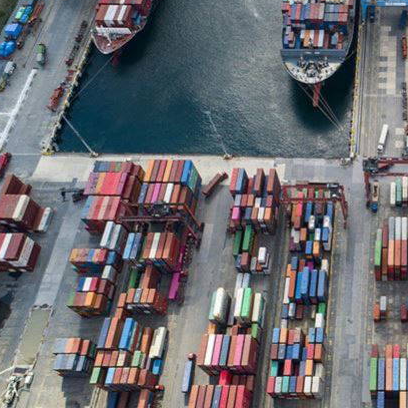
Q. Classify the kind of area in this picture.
port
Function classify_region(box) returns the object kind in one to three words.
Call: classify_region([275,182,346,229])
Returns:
container crane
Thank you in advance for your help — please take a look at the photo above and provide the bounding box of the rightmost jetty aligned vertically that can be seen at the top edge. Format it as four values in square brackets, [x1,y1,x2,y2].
[350,0,408,159]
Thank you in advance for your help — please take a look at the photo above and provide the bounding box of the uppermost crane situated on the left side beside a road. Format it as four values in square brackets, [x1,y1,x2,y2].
[113,201,201,249]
